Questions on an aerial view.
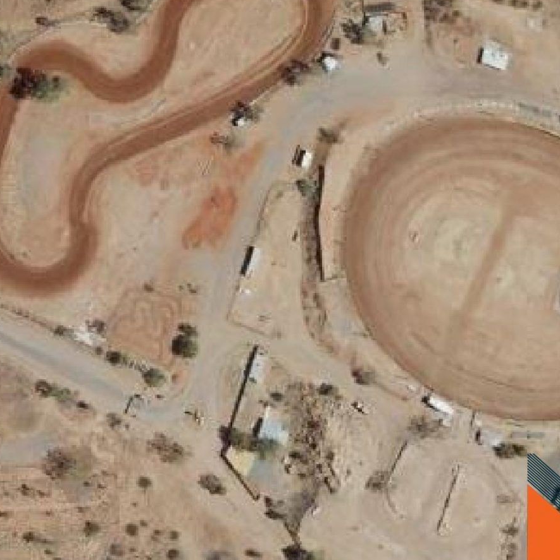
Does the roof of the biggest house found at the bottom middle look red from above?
No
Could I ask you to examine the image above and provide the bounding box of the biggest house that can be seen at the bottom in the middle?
[259,416,288,443]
